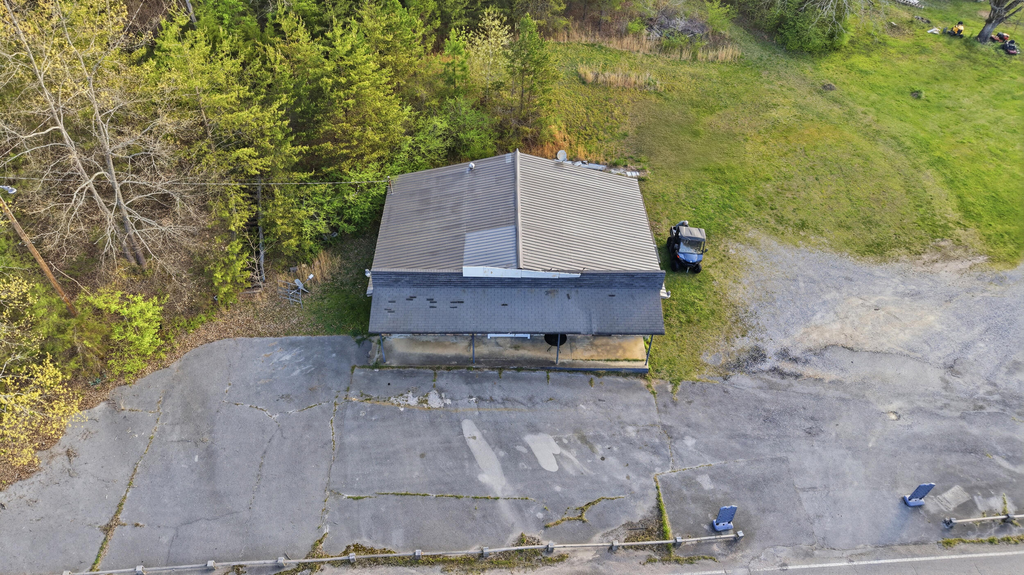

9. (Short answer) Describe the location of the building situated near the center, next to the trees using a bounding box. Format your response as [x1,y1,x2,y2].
[362,146,677,371]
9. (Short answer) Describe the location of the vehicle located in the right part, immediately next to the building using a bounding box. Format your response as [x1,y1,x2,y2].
[670,222,712,277]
